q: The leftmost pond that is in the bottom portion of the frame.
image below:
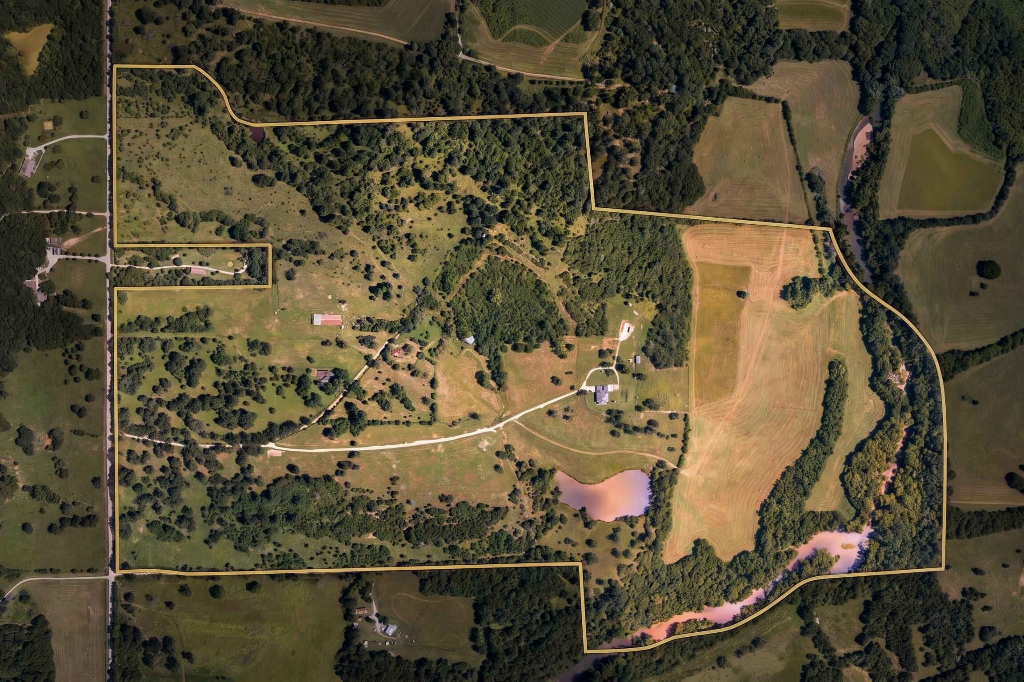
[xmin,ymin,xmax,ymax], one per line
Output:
[557,470,650,523]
